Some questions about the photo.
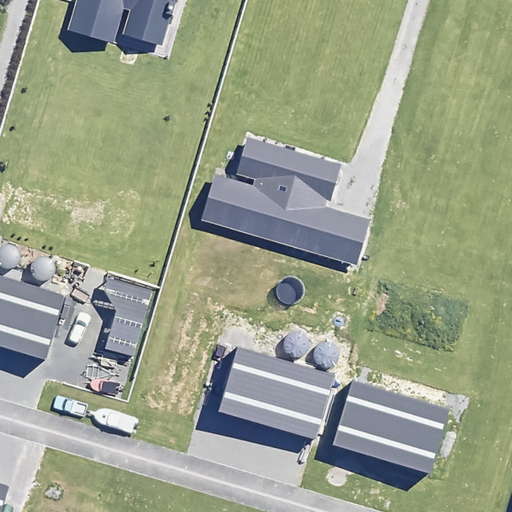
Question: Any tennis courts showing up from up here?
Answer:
No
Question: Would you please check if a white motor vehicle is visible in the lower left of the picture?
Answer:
Yes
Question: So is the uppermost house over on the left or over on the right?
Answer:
left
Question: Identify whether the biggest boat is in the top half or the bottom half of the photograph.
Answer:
bottom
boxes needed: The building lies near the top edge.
[64,0,186,58]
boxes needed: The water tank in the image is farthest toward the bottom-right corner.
[313,342,339,369]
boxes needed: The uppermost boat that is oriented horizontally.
[86,381,122,396]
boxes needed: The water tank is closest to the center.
[276,275,305,305]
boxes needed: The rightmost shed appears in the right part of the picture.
[332,380,450,474]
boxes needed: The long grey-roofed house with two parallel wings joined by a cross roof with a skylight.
[201,137,370,266]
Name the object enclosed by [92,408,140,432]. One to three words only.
boat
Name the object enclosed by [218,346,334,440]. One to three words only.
shed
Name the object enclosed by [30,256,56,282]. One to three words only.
water tank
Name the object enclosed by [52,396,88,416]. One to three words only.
vehicle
